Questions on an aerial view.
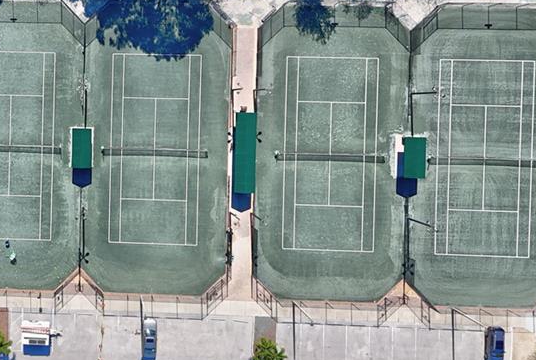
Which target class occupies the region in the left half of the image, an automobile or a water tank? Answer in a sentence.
The feature located in the left half of the image is an automobile.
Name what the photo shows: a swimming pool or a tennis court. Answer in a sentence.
The image shows a tennis court.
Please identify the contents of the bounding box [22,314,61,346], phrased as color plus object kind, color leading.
white trailer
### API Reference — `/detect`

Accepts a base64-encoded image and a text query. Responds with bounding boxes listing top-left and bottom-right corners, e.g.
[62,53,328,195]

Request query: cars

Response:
[484,326,507,360]
[140,319,158,359]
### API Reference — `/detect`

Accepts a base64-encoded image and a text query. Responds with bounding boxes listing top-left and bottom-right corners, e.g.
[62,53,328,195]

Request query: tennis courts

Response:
[80,0,233,294]
[0,0,84,290]
[404,5,536,309]
[253,3,411,302]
